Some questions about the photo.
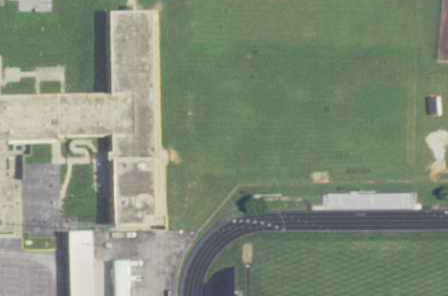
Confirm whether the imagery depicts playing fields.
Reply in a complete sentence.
Yes, a playing field can be made out from above.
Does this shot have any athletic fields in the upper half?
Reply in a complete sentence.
Yes, an athletic field shows up in the upper half.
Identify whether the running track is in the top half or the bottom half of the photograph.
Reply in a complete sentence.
You can find the running track in the bottom half.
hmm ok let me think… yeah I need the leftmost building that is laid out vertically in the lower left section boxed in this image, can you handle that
[68,231,96,296]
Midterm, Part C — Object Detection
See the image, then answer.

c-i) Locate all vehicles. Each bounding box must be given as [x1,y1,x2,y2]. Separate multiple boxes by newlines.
[130,276,142,280]
[130,260,143,266]
[112,232,135,238]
